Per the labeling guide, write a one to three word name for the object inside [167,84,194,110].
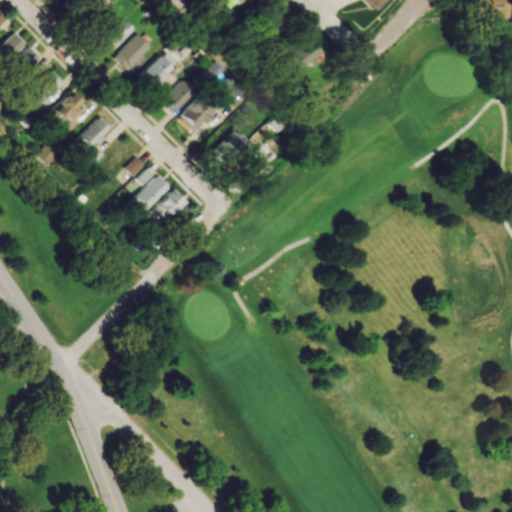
house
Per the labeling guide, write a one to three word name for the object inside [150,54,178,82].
house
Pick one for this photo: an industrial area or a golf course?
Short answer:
golf course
